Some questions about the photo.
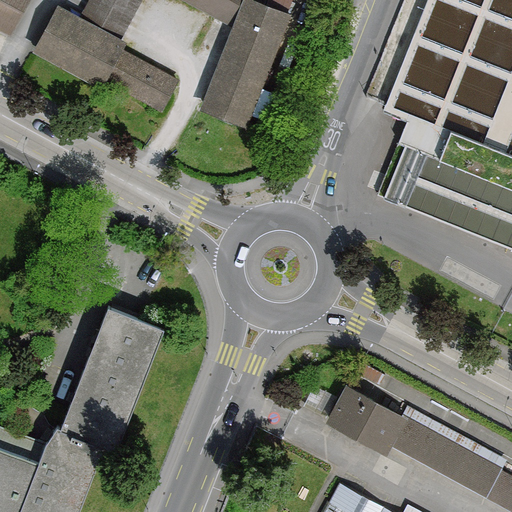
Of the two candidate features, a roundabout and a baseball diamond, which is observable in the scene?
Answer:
roundabout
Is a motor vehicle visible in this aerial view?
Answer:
Yes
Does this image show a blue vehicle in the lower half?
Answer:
Yes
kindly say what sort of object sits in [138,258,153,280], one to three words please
car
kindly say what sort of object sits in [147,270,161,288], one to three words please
car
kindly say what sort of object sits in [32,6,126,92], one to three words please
house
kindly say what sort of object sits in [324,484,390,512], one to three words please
building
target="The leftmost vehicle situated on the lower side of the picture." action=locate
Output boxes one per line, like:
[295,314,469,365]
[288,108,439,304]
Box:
[57,370,73,400]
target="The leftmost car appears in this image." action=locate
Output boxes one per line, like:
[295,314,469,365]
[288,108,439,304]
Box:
[30,119,54,137]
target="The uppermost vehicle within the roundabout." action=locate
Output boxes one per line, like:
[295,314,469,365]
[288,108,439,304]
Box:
[235,244,249,268]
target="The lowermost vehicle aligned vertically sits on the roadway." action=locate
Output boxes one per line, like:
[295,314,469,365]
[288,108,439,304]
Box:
[224,402,238,426]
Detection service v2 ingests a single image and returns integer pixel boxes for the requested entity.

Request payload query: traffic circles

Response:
[214,200,346,333]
